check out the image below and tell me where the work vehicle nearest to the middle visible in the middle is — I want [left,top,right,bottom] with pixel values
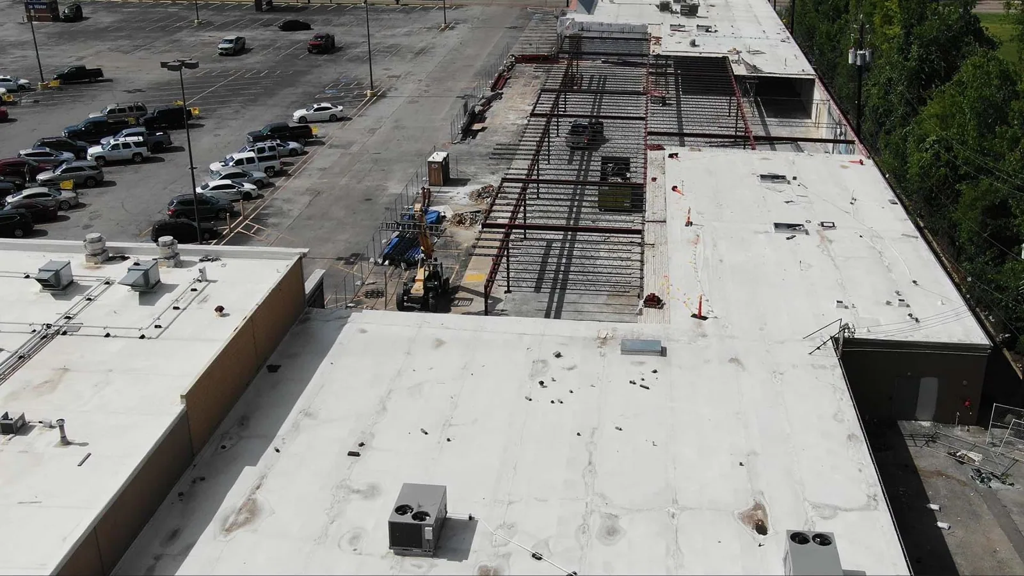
[400,199,450,306]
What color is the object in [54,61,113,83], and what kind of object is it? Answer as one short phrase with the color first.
black truck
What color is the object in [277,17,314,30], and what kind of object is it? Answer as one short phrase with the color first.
black vehicle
